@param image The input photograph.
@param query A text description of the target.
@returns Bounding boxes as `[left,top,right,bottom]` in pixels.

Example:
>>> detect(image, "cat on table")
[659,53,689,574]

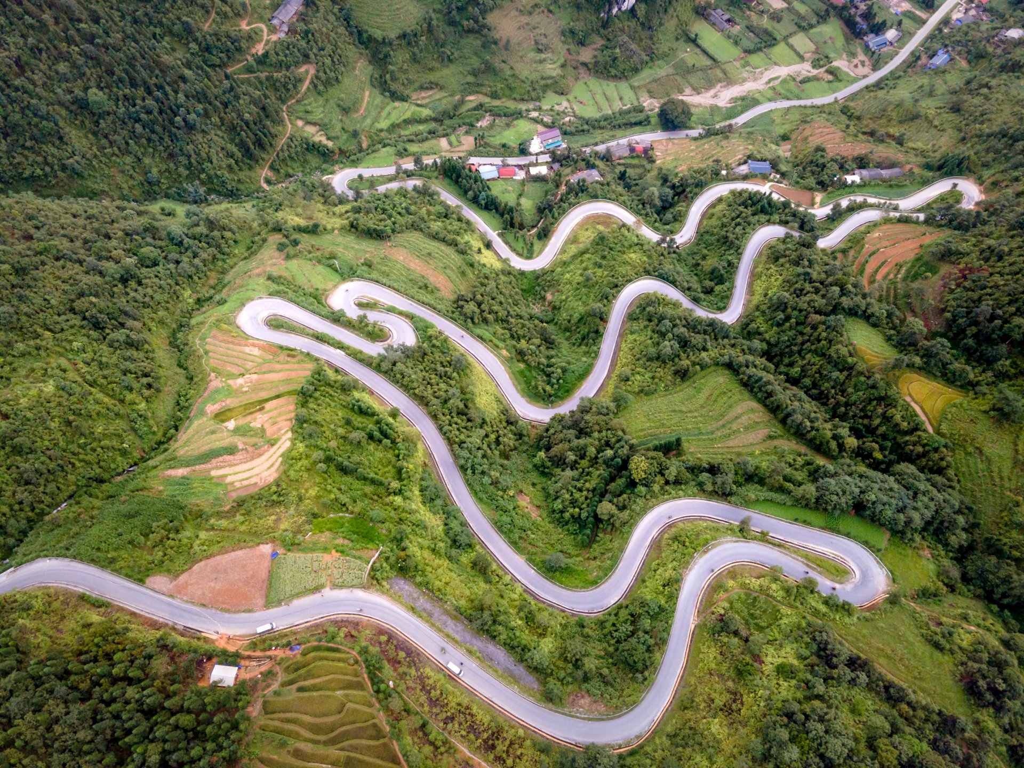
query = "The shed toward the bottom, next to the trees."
[210,661,240,692]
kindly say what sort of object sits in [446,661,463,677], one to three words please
vehicle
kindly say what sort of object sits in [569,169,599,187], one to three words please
house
